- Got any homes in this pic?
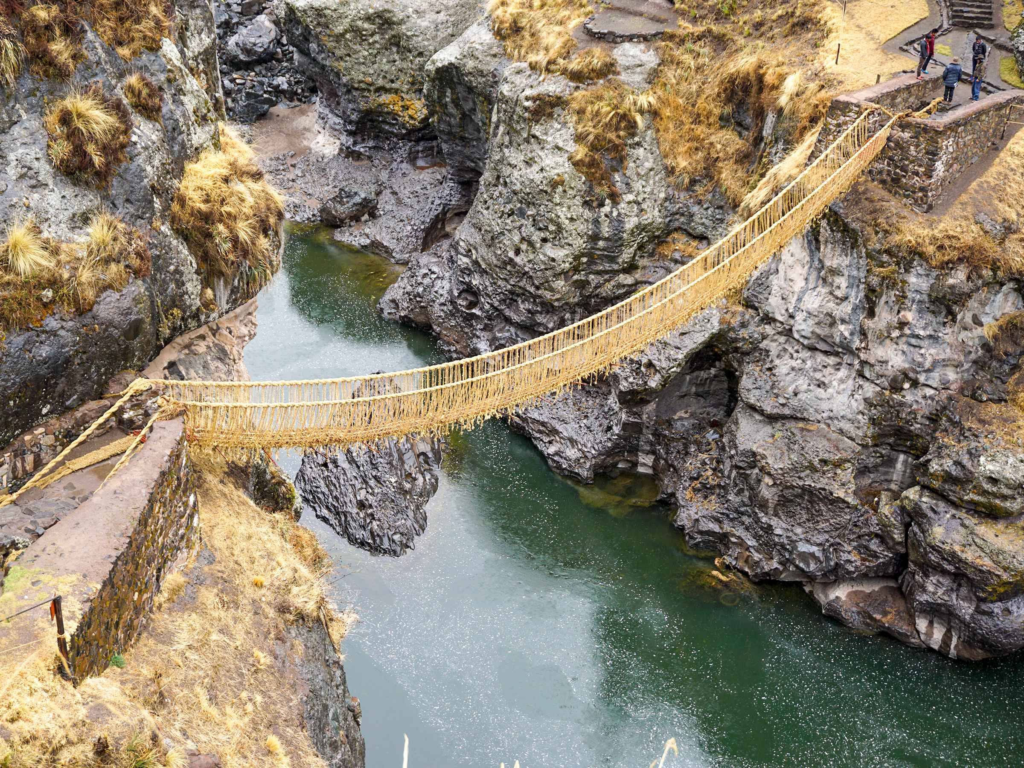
No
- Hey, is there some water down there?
Yes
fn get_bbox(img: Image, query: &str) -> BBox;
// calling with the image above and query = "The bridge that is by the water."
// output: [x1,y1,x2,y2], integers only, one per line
[0,95,952,506]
